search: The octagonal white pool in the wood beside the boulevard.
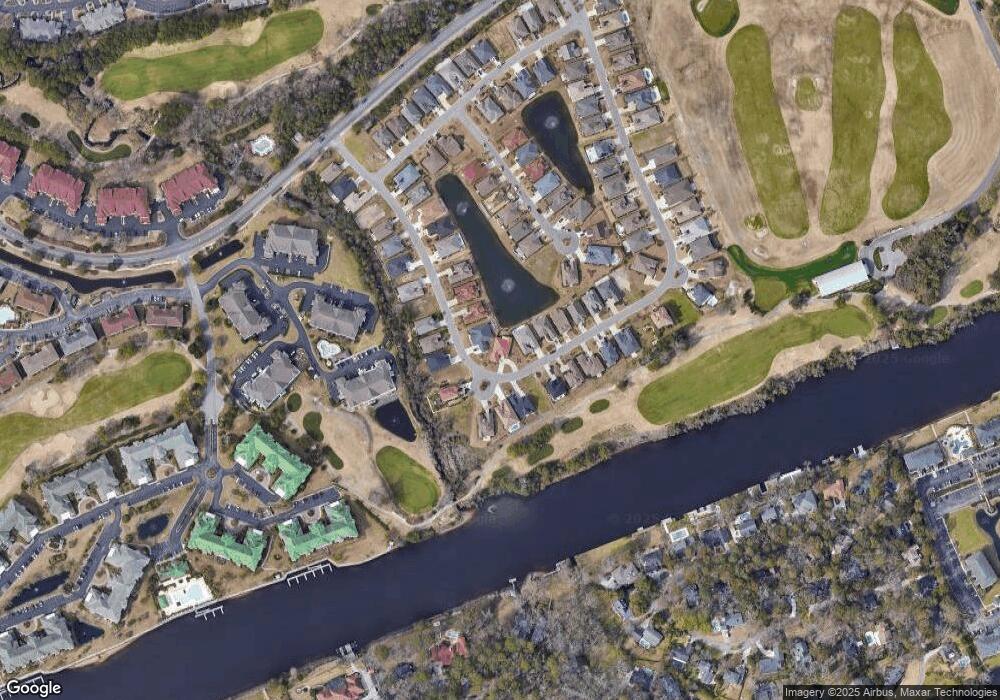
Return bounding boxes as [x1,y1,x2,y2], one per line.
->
[252,138,275,155]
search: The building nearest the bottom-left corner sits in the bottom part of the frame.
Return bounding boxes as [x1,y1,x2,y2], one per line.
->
[0,618,73,673]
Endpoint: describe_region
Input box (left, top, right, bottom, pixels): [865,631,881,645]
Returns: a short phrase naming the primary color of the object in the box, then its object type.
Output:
white swimming pool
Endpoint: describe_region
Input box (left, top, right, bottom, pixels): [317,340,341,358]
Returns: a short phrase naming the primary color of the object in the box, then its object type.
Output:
white swimming pool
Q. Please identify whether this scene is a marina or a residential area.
residential area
